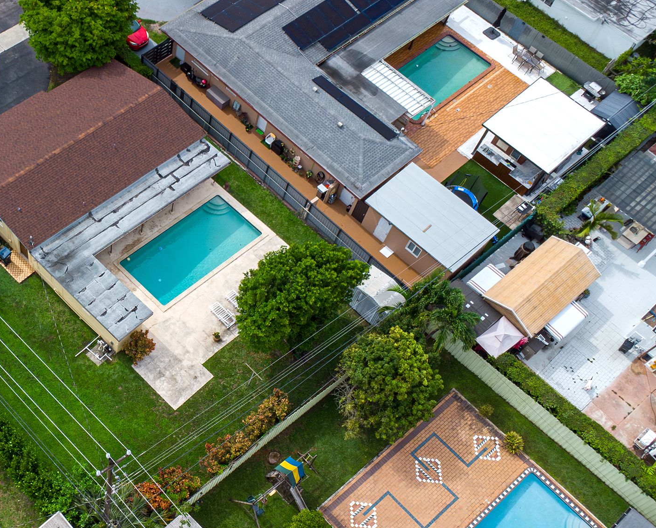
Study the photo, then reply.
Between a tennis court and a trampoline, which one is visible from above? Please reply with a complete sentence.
Visible in the photo is a trampoline.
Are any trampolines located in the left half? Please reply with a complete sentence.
No, the scene shows no trampoline in the left half.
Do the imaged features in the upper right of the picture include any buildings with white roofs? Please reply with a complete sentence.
Yes, a building with a white roof can be seen in the upper right of the picture.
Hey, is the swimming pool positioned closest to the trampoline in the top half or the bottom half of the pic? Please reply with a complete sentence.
Seen from above, the swimming pool positioned closest to the trampoline lies in the top half of the view.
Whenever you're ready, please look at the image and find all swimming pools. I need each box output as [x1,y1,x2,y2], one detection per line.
[465,465,599,528]
[374,30,496,124]
[114,189,268,310]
